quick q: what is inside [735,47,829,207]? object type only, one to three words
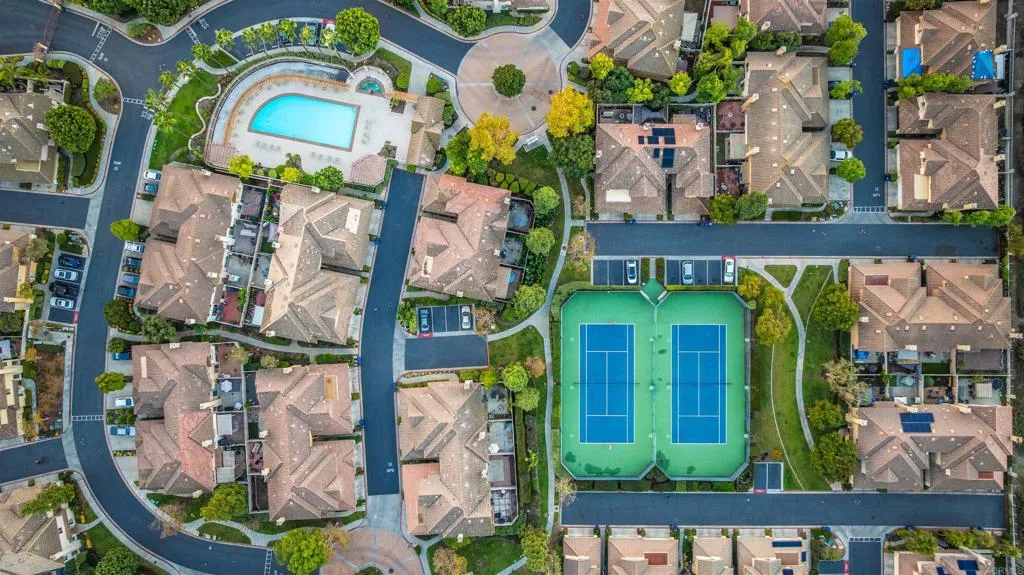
house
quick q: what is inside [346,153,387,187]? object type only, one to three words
gazebo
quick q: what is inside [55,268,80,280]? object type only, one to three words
vehicle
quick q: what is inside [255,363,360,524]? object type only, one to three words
house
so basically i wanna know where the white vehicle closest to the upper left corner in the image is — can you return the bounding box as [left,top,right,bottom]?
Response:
[140,168,163,182]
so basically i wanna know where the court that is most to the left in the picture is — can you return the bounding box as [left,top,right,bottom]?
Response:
[561,280,656,479]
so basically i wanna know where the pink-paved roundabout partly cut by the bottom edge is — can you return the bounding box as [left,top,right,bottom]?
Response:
[315,527,421,575]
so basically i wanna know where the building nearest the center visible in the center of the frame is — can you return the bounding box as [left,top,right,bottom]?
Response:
[408,174,512,301]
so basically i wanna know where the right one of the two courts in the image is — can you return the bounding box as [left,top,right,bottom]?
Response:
[656,285,748,480]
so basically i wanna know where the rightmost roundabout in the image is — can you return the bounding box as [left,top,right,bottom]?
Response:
[456,30,564,133]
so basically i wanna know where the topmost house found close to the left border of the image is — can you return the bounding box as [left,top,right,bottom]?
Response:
[0,92,80,188]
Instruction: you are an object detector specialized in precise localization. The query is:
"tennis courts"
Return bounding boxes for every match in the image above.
[656,285,748,480]
[561,280,656,479]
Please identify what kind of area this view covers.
residential area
